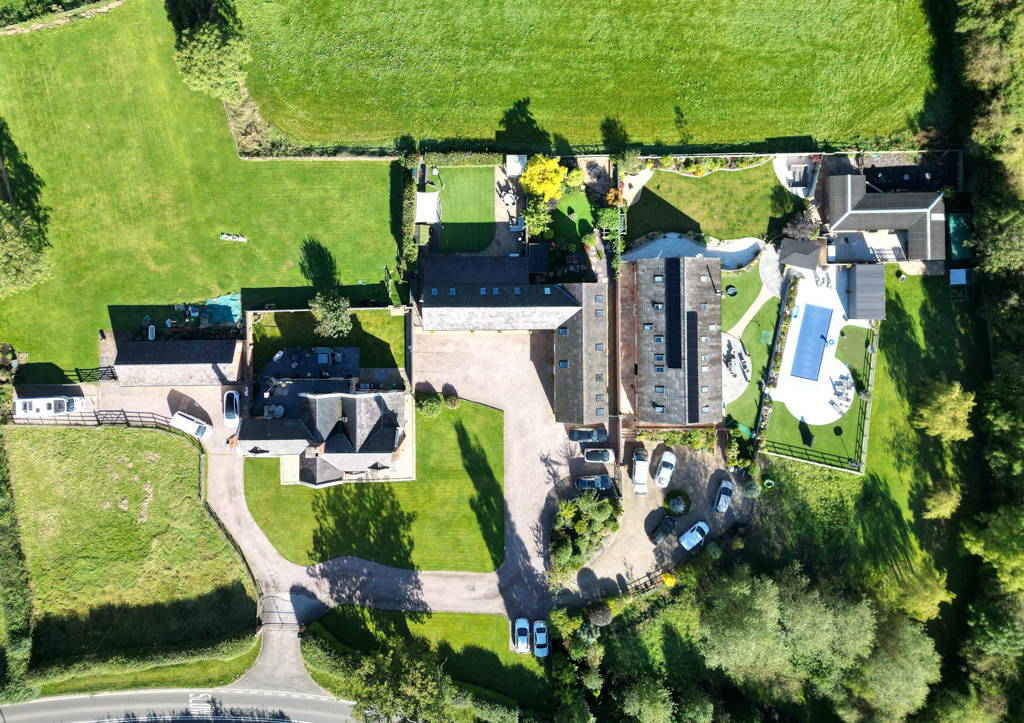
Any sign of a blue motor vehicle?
Yes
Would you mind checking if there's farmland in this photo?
Yes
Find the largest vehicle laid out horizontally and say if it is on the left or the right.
left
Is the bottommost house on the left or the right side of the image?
left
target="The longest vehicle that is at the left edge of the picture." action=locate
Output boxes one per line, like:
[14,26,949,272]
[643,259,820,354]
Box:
[14,397,88,418]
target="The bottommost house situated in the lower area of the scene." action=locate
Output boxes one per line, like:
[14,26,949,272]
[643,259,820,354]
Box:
[225,394,410,486]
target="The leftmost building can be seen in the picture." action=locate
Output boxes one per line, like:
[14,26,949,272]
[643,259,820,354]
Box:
[103,339,248,385]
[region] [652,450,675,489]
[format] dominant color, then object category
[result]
white car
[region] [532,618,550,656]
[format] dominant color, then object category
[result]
blue car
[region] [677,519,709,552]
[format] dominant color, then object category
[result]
blue car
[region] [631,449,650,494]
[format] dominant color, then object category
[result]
white vehicle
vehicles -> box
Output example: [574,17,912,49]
[223,391,242,426]
[647,514,677,546]
[652,450,675,489]
[677,519,709,552]
[532,618,550,656]
[14,397,88,418]
[512,616,530,653]
[631,449,650,494]
[583,446,616,464]
[712,479,734,513]
[171,409,216,439]
[568,425,607,444]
